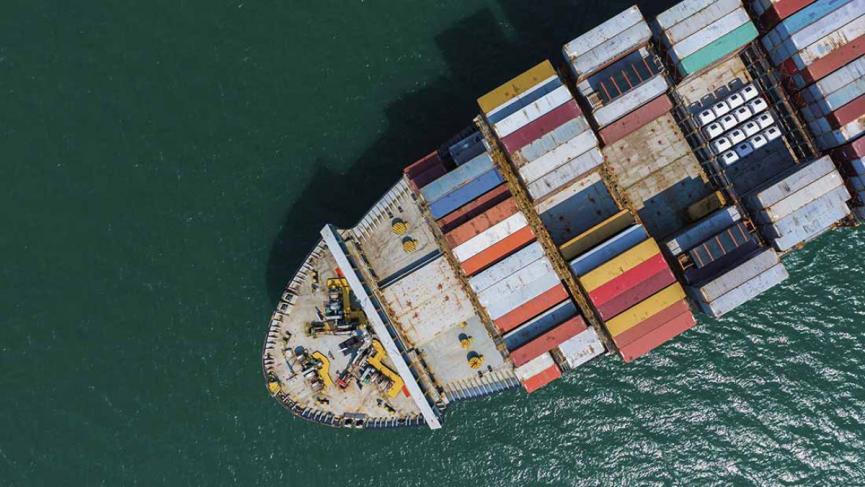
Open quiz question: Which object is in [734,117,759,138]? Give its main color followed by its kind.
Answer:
white vehicle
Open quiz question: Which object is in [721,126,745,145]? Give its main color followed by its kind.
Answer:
white vehicle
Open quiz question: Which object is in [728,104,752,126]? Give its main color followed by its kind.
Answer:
white truck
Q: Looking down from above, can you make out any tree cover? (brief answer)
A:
No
